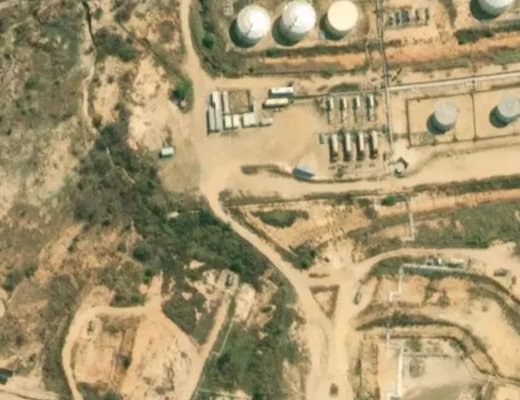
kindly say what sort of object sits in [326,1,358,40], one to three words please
storage tank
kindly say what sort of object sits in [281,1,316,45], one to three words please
storage tank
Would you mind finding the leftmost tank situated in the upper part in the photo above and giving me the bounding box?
[236,6,270,48]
